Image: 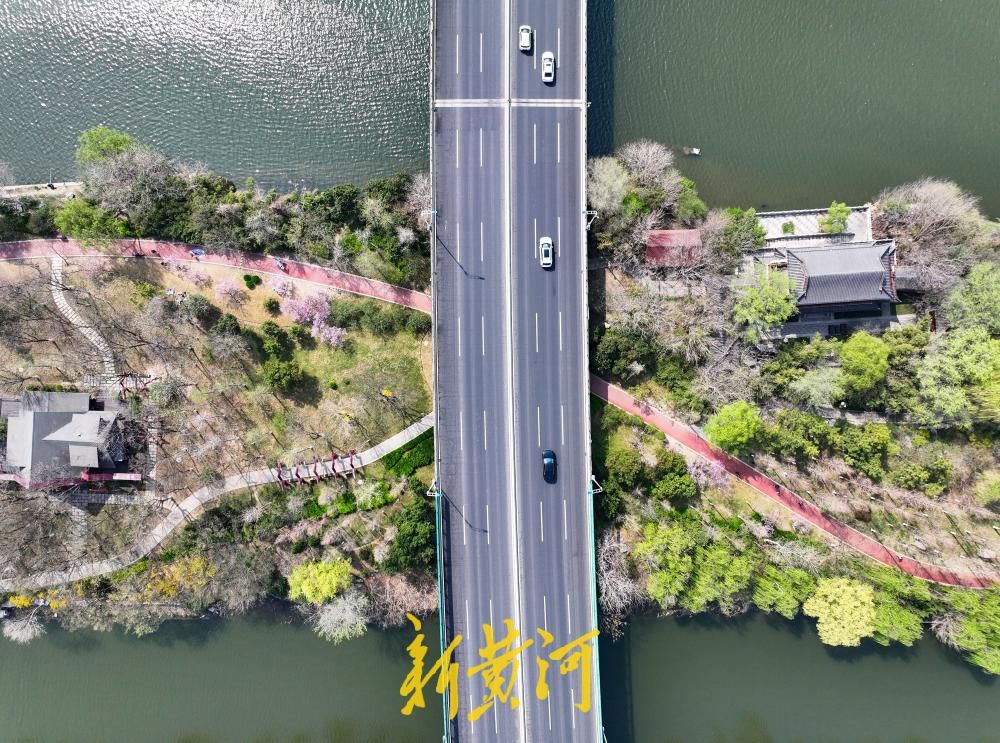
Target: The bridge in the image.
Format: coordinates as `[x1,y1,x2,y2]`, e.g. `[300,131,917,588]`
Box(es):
[430,0,606,743]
